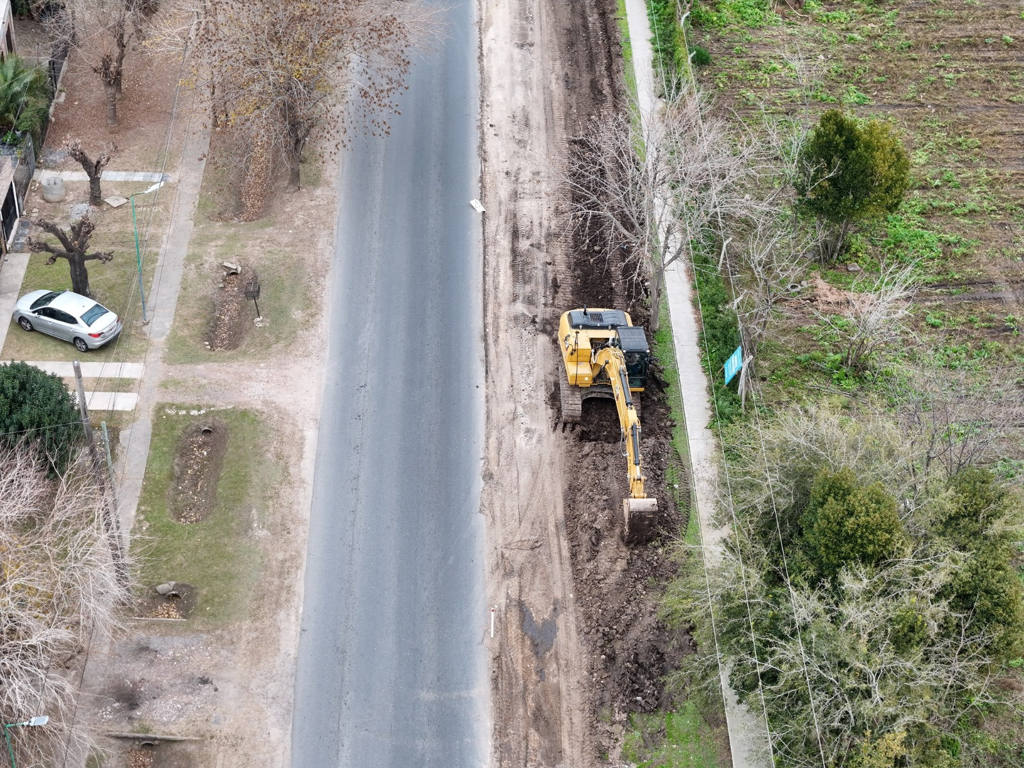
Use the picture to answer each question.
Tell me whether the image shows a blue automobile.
No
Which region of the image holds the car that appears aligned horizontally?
left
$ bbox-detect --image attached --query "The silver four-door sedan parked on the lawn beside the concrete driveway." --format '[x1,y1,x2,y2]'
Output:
[10,291,123,352]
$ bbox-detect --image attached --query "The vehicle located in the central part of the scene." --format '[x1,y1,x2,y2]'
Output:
[558,306,659,544]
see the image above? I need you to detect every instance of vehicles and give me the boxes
[558,306,659,544]
[10,291,123,352]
